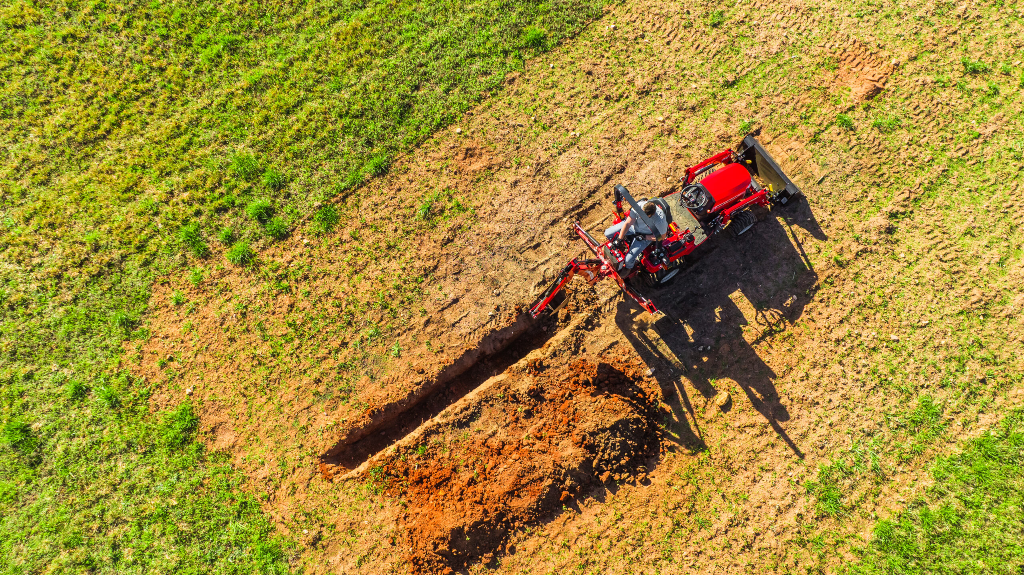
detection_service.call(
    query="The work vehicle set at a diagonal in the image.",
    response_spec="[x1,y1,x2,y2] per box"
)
[523,133,808,326]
